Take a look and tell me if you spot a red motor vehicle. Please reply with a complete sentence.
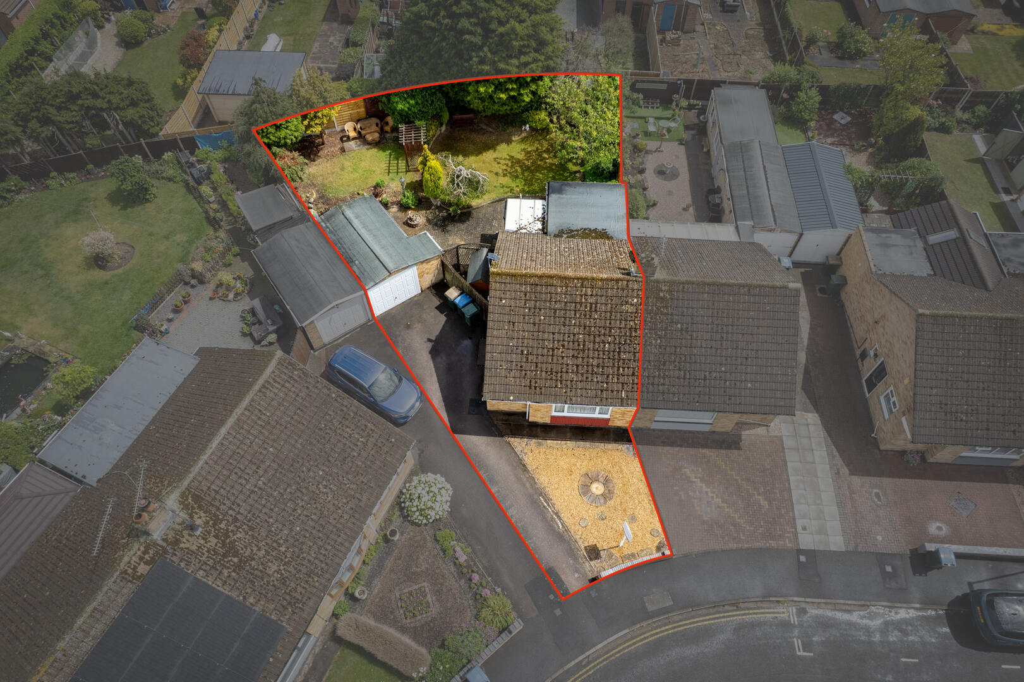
No, the scene contains no red motor vehicle.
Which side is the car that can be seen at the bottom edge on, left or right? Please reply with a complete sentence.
It is on the right.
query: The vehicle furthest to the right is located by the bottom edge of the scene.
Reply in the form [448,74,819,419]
[964,591,1024,648]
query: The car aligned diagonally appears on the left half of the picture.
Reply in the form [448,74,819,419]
[322,340,425,425]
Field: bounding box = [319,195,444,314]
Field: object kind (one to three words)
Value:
building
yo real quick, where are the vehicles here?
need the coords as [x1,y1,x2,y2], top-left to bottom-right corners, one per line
[322,340,425,425]
[964,591,1024,648]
